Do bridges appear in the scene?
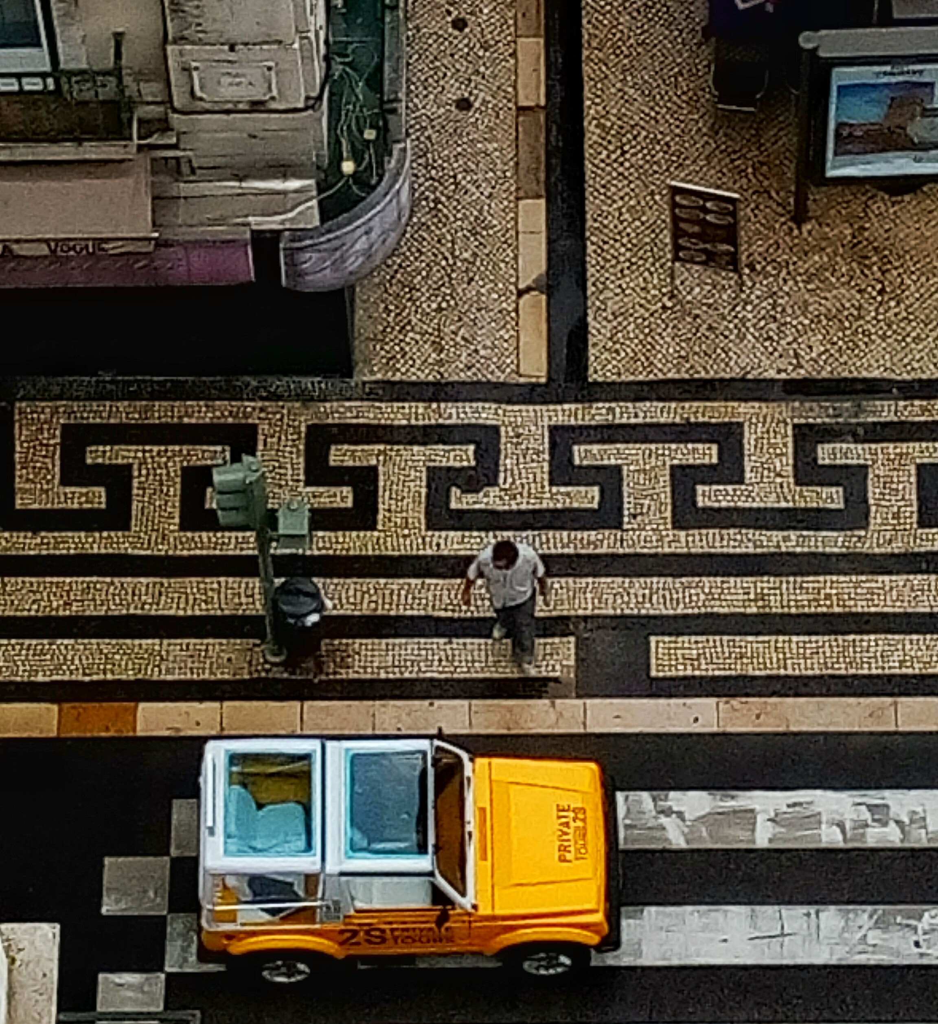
No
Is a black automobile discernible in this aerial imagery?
No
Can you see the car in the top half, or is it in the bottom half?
bottom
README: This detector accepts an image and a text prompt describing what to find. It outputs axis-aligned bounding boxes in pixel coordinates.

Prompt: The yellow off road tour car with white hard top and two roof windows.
[193,729,620,977]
